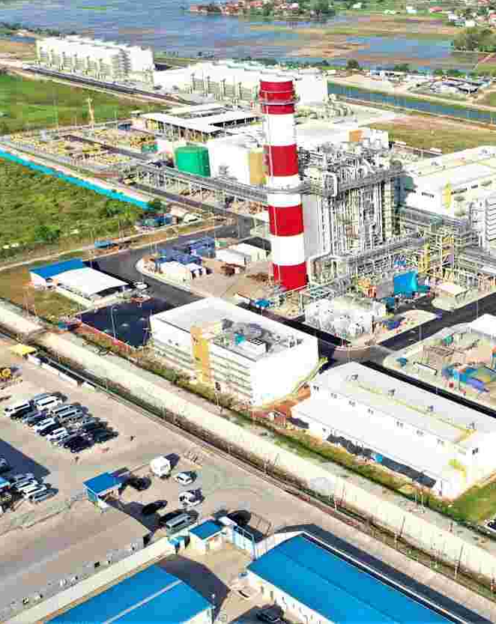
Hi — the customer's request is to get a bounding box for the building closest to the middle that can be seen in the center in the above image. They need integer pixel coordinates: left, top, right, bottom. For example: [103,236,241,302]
[153,296,319,409]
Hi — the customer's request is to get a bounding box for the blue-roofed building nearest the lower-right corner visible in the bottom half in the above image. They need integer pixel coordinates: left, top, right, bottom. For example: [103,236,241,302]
[240,533,462,624]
